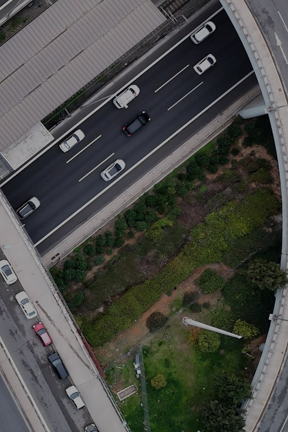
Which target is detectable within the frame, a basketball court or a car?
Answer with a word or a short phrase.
car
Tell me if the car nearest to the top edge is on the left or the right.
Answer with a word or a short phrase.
right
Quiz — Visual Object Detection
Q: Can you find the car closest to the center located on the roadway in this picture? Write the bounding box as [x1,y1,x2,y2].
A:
[98,157,128,184]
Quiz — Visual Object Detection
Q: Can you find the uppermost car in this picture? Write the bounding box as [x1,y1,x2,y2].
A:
[187,18,218,48]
